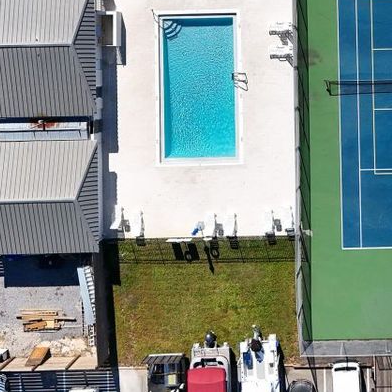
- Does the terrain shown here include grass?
Yes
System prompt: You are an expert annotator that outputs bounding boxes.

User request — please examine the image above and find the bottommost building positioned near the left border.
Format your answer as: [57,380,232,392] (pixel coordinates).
[0,137,110,255]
